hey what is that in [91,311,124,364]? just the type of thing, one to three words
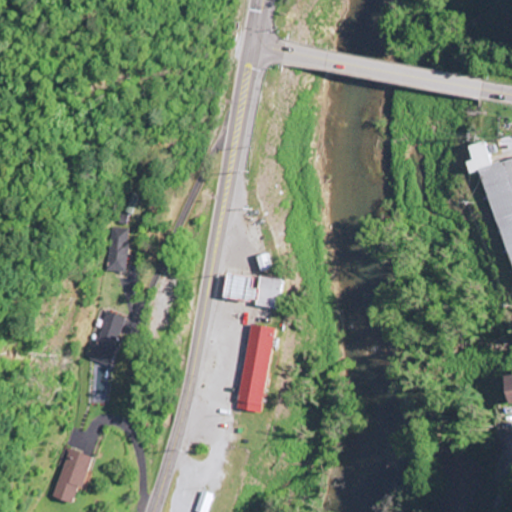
house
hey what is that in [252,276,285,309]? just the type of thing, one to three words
building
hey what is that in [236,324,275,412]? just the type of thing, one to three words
building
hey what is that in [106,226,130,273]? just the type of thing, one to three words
house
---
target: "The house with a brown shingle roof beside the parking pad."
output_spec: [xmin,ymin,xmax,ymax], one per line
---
[52,448,94,504]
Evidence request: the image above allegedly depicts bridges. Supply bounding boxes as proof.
[282,32,488,108]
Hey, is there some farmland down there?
No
